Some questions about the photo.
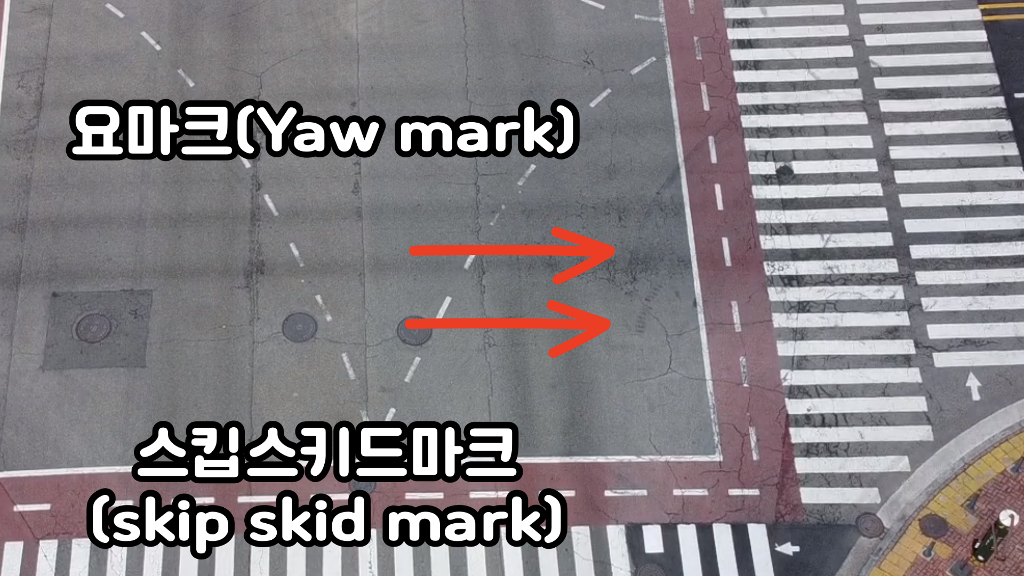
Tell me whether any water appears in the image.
No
